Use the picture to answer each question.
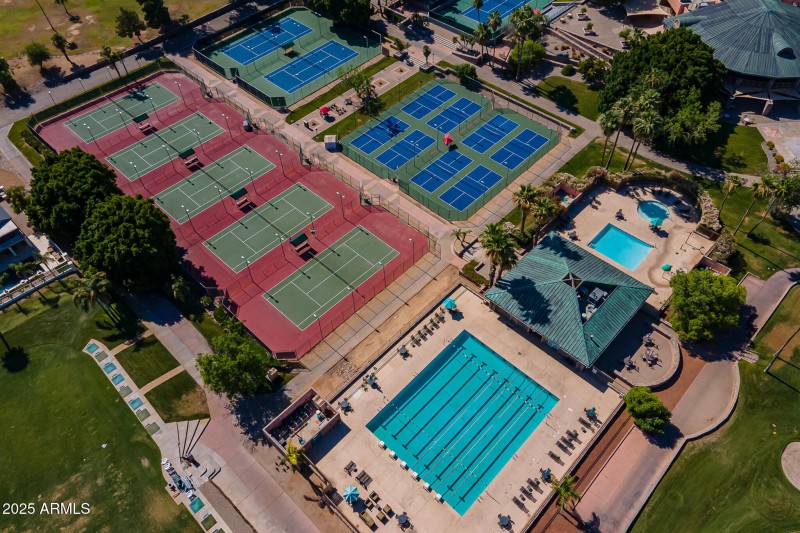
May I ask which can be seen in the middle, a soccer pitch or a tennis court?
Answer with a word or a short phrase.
tennis court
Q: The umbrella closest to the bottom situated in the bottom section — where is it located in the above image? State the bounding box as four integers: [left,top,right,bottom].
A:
[341,483,360,502]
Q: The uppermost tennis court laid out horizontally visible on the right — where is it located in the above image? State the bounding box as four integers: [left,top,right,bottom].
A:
[432,0,559,44]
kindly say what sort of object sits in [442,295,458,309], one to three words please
umbrella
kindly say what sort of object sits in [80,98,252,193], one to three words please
tennis court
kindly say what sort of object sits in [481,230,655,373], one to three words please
building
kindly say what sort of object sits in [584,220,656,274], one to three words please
swimming pool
